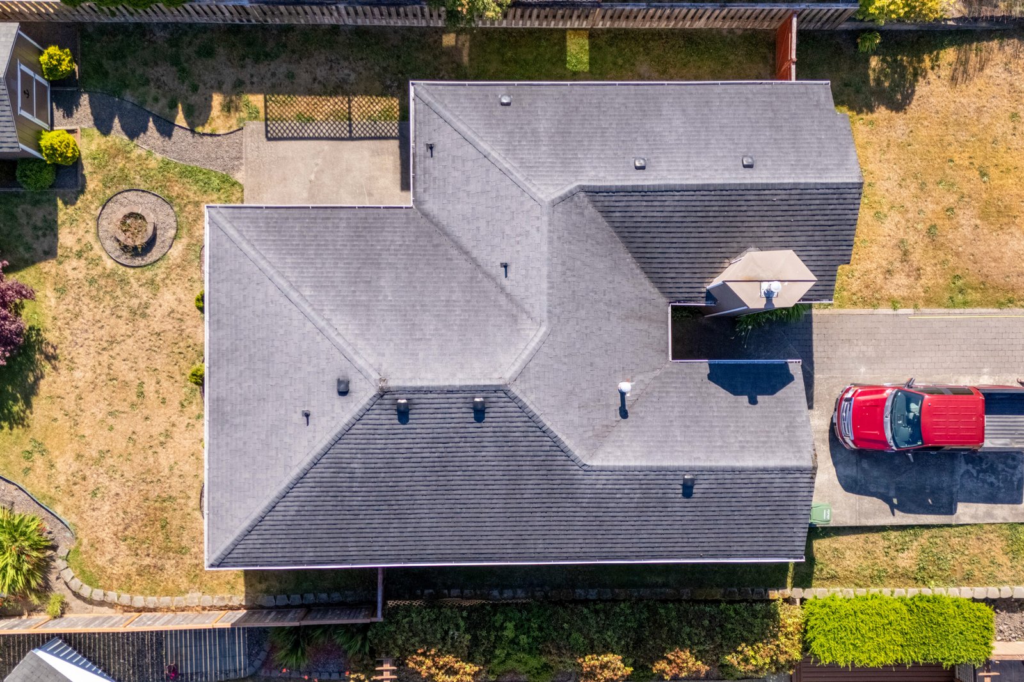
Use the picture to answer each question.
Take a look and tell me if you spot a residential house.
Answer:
Yes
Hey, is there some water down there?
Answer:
No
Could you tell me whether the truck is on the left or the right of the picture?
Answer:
right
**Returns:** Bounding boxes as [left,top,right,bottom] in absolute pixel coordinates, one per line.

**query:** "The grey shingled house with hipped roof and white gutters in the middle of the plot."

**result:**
[205,79,862,570]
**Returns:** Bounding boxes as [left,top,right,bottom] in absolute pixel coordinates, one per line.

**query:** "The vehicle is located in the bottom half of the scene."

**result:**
[830,379,1024,459]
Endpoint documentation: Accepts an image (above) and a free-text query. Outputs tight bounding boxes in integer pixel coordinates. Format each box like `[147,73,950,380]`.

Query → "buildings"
[2,638,115,682]
[0,22,51,158]
[205,79,862,570]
